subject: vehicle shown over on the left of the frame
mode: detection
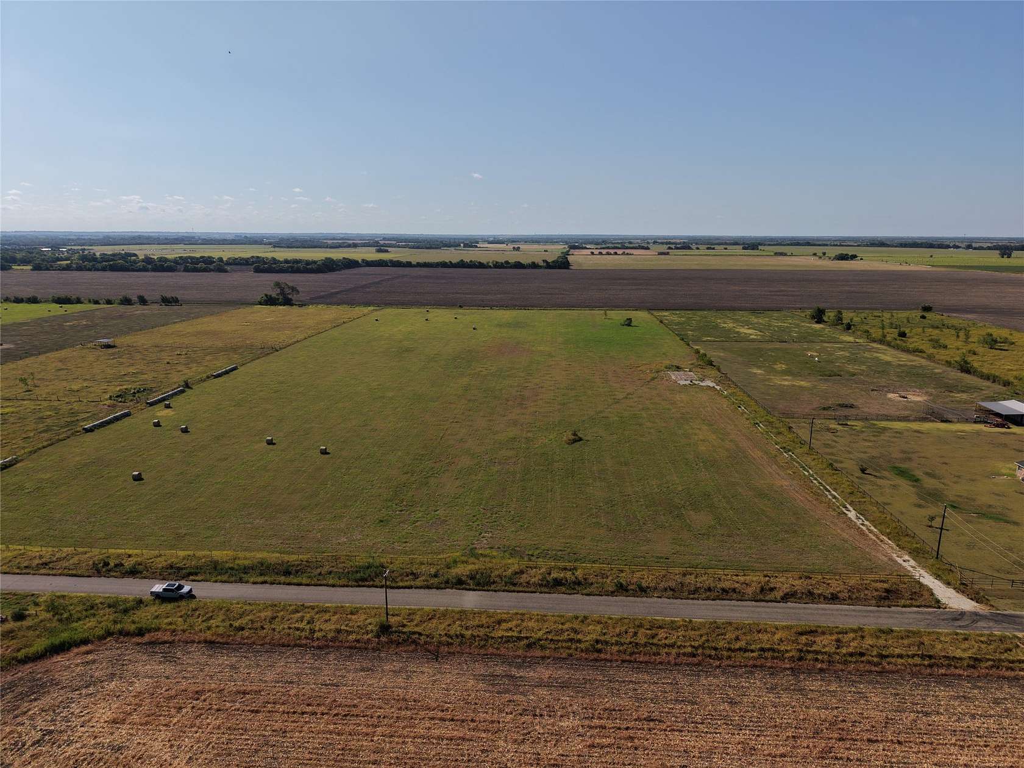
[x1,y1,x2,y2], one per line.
[147,580,191,598]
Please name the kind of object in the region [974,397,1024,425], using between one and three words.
barn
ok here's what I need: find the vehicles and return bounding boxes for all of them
[147,580,191,598]
[995,420,1016,428]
